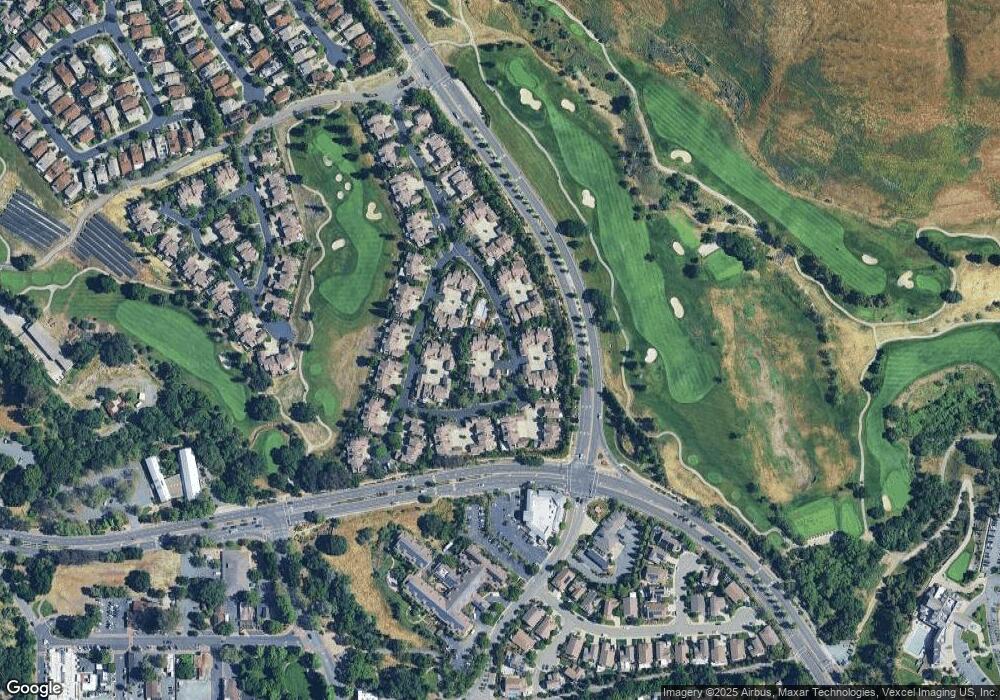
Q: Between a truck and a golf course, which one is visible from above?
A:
golf course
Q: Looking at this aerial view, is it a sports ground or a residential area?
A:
residential area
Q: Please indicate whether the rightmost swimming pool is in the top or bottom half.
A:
bottom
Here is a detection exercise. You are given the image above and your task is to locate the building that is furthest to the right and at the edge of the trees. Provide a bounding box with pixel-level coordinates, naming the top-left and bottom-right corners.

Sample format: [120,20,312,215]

[919,587,959,666]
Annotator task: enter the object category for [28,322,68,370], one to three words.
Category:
barn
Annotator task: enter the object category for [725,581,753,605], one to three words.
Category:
house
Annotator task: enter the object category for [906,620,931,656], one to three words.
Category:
swimming pool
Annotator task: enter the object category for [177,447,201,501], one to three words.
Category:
shed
